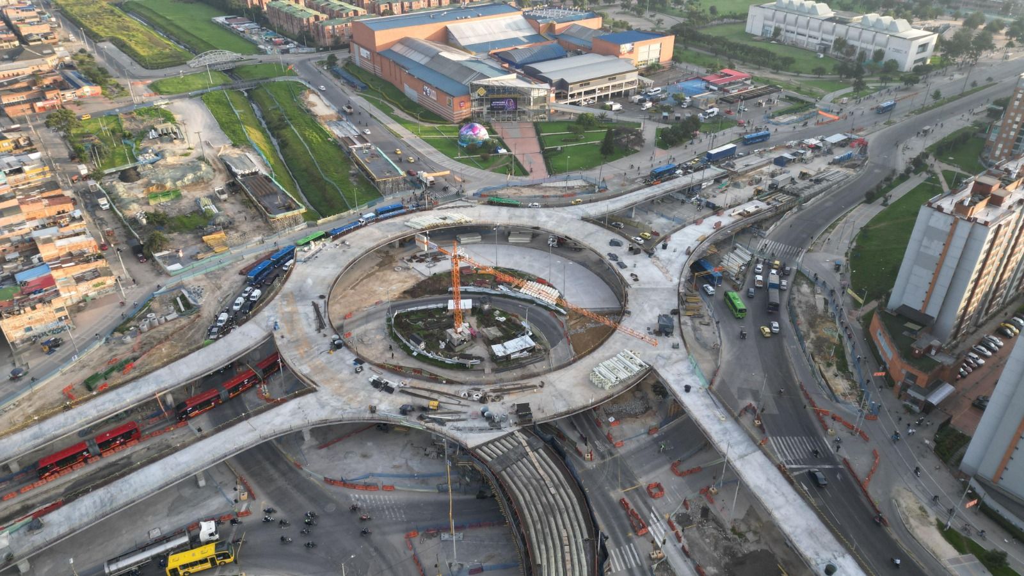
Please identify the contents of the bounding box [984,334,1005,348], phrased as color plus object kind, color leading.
gray car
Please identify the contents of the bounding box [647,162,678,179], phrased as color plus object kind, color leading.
blue vehicle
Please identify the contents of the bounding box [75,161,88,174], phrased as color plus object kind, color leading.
white vehicle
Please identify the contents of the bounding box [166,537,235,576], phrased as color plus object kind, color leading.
yellow bus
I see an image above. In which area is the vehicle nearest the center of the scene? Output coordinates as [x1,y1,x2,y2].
[545,237,576,253]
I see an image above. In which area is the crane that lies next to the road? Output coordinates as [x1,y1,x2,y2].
[410,235,660,350]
